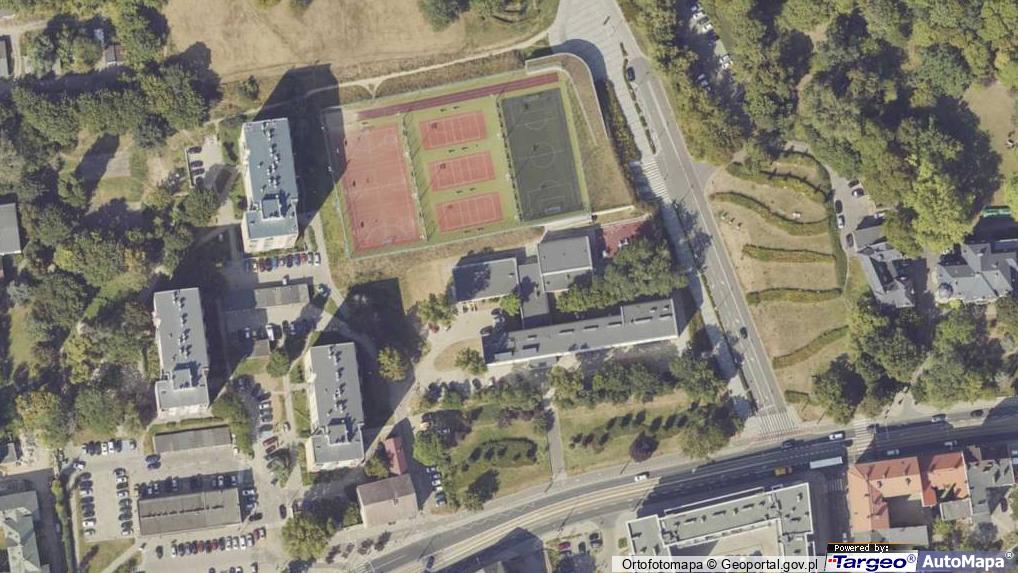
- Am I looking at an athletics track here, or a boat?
athletics track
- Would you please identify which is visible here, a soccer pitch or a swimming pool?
soccer pitch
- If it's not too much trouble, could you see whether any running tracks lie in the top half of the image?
Yes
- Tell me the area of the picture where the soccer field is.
top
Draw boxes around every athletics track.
[358,73,560,119]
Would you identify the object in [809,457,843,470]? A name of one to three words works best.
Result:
vehicle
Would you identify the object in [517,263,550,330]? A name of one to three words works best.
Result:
building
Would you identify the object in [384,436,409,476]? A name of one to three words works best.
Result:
house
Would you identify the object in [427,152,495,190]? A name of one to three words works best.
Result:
sports court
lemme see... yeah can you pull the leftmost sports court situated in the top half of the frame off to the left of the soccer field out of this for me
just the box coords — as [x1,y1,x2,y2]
[342,124,421,253]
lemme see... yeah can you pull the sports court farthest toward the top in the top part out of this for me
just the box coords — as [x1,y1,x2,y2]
[421,111,487,148]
